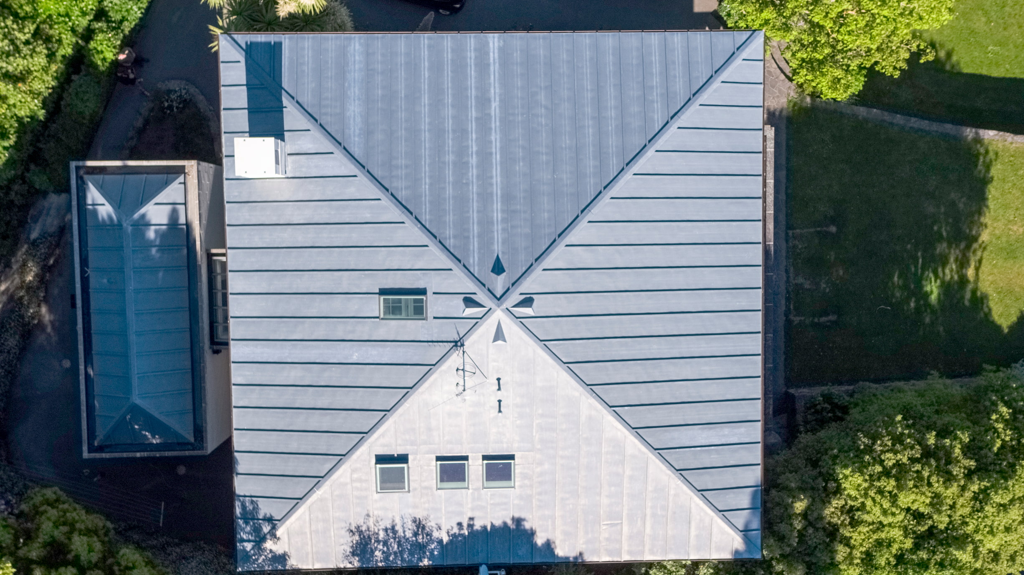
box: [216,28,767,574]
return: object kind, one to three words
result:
house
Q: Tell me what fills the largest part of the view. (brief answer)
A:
buildings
